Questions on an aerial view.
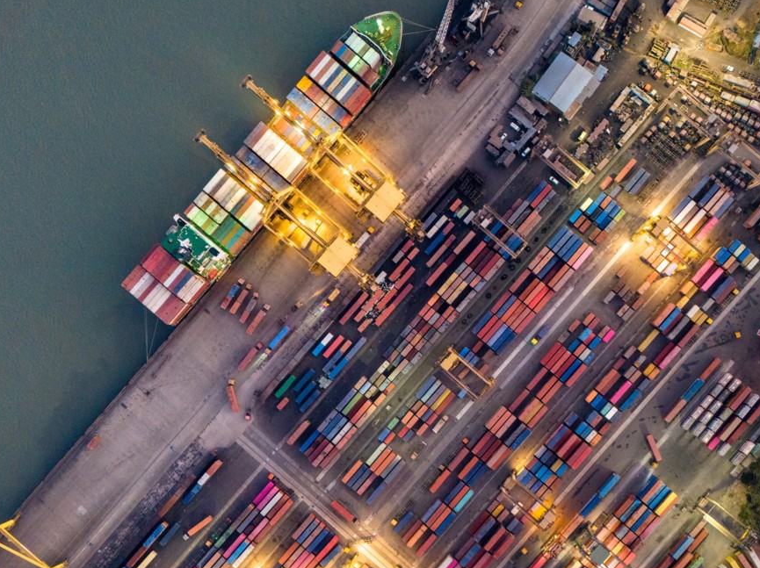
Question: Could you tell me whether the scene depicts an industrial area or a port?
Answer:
port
